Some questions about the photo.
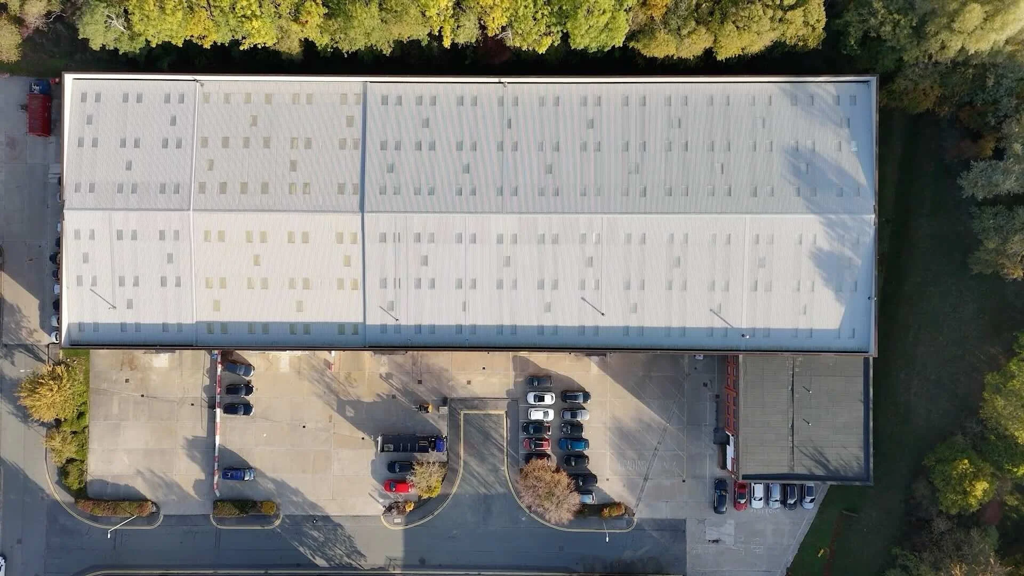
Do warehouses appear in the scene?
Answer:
Yes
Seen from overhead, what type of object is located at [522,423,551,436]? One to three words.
vehicle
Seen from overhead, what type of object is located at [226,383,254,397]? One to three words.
car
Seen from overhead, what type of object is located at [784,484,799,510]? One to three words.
car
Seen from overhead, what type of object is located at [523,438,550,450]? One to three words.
vehicle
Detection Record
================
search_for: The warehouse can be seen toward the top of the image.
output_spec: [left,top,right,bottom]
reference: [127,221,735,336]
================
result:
[61,72,879,356]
